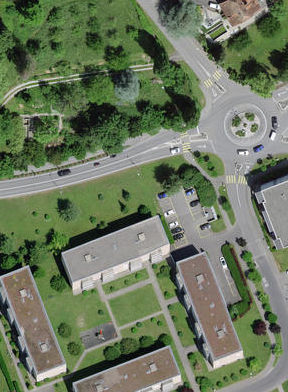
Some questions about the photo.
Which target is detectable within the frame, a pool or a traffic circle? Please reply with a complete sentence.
Of the two, only a traffic circle appears.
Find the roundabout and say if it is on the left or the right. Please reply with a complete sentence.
The roundabout is on the right side of the image.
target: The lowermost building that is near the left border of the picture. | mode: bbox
[0,266,66,382]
